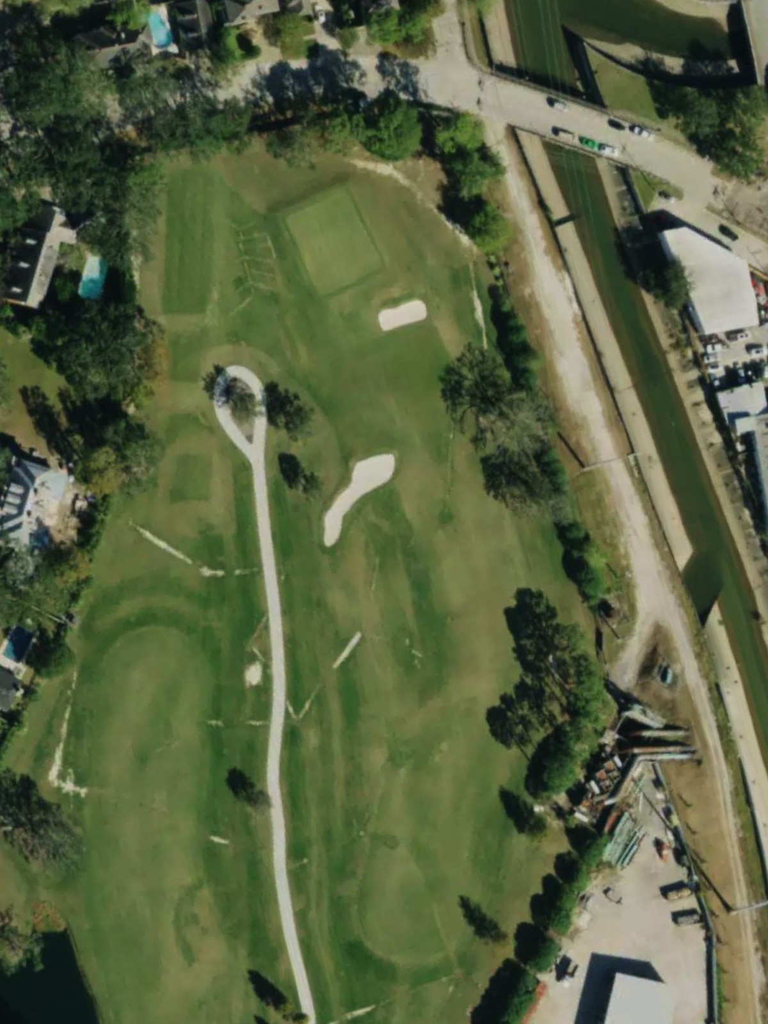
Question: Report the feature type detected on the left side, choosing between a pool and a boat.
pool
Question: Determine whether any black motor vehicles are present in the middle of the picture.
No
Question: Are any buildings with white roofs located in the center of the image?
No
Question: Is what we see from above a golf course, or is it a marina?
golf course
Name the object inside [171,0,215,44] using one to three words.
house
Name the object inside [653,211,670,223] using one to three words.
vehicle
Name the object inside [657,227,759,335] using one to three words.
building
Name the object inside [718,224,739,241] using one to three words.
car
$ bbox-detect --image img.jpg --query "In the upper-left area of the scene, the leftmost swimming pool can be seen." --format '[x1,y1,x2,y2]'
[79,255,107,300]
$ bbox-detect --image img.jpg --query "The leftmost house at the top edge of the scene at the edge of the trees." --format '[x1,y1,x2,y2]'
[68,29,153,71]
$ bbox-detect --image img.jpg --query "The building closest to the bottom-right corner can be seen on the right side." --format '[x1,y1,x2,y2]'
[595,973,670,1024]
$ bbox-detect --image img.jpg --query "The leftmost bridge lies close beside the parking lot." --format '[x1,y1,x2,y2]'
[488,62,656,183]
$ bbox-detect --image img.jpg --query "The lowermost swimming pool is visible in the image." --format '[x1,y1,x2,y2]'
[0,627,36,682]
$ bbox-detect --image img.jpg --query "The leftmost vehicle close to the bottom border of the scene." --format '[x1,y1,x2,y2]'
[561,962,573,982]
